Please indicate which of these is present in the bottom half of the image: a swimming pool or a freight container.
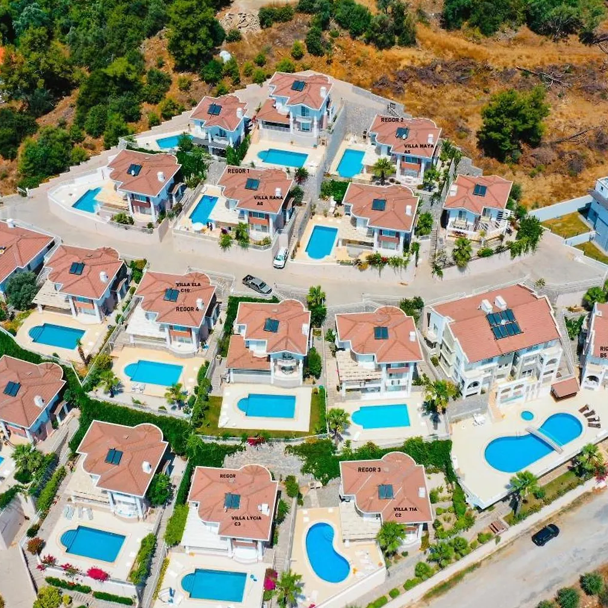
swimming pool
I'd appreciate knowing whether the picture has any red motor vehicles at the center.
No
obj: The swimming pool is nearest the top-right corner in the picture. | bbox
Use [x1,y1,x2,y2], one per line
[335,148,367,179]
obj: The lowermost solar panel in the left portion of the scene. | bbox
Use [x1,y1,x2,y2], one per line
[220,487,241,504]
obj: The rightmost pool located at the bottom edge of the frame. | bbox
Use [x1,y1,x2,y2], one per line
[302,519,354,585]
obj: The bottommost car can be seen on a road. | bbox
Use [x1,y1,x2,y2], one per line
[531,521,562,545]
